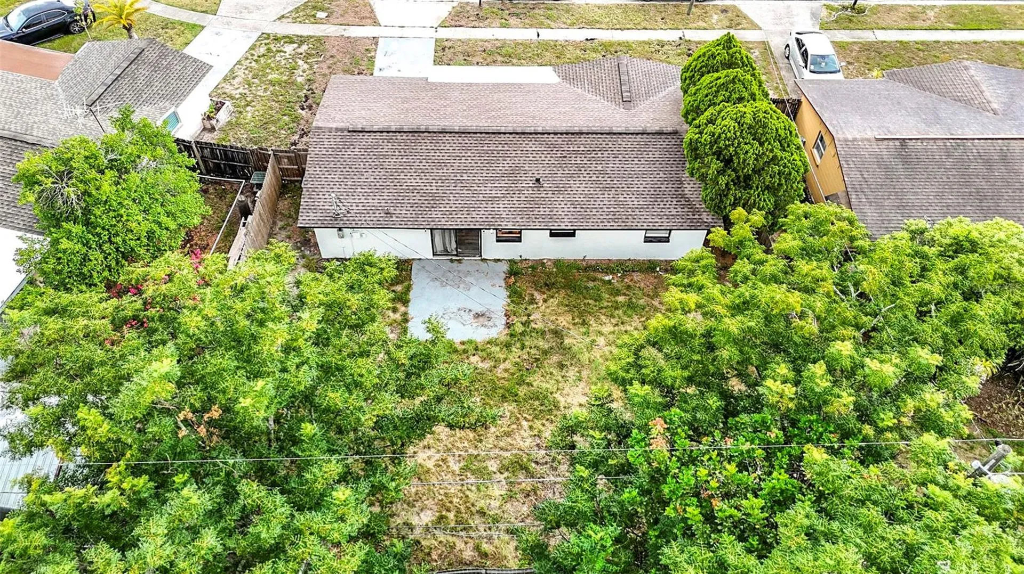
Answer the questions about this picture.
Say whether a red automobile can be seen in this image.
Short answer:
No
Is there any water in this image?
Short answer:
No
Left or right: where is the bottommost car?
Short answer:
right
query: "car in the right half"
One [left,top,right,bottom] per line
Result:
[787,28,847,77]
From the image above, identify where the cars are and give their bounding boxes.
[0,0,92,45]
[787,28,847,77]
